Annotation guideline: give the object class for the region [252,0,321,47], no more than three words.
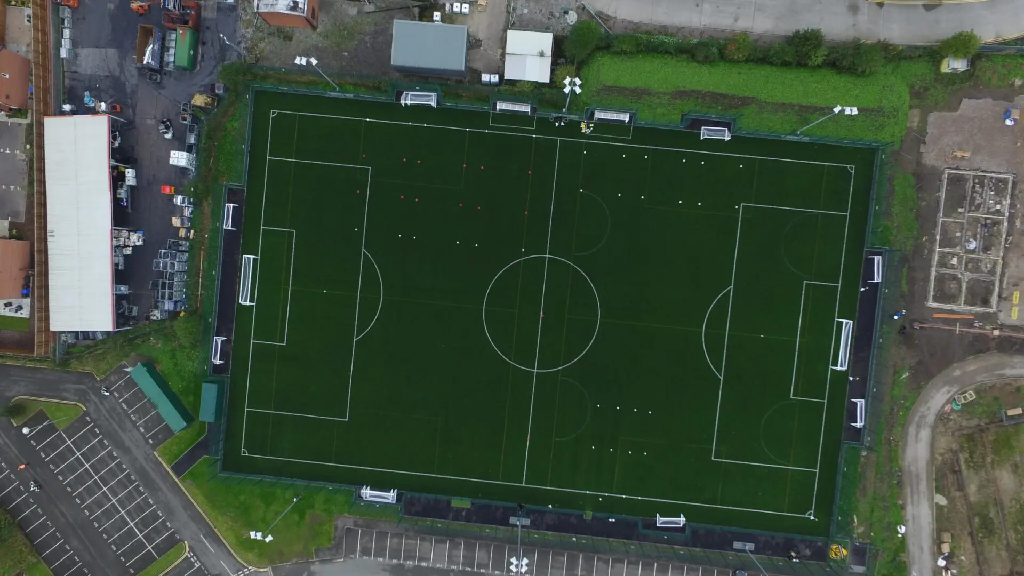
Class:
building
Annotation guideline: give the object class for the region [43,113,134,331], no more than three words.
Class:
shed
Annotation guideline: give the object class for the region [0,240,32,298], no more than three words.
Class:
house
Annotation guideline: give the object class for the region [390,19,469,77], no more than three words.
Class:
shed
